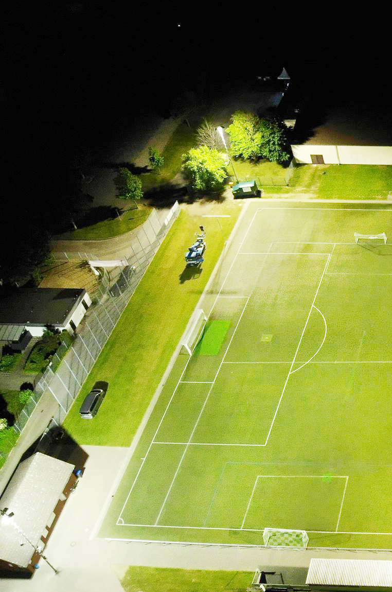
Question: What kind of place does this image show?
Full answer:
This image shows a sports ground.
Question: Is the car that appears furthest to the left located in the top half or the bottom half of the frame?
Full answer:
You can find the car that appears furthest to the left in the bottom half.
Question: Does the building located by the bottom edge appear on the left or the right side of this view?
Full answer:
The building located by the bottom edge sits on the left side.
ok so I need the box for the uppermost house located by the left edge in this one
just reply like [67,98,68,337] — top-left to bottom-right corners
[0,287,93,340]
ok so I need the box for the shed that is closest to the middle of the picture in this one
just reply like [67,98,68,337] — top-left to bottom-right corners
[230,181,264,200]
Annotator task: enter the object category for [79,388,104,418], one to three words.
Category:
car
